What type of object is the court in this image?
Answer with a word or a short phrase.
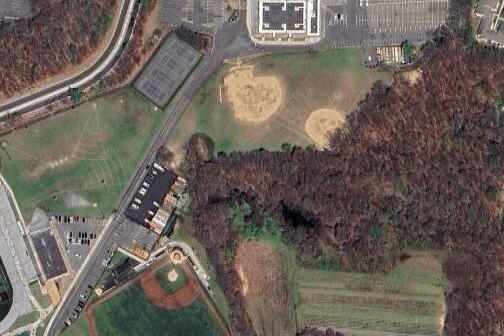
tennis court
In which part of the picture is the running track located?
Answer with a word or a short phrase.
bottom left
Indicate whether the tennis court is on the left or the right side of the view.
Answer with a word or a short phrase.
left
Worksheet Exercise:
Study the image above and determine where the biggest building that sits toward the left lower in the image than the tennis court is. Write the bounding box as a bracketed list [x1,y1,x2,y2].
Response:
[125,162,179,231]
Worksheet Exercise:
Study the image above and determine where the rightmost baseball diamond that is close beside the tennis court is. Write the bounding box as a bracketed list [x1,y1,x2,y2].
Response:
[220,62,309,134]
